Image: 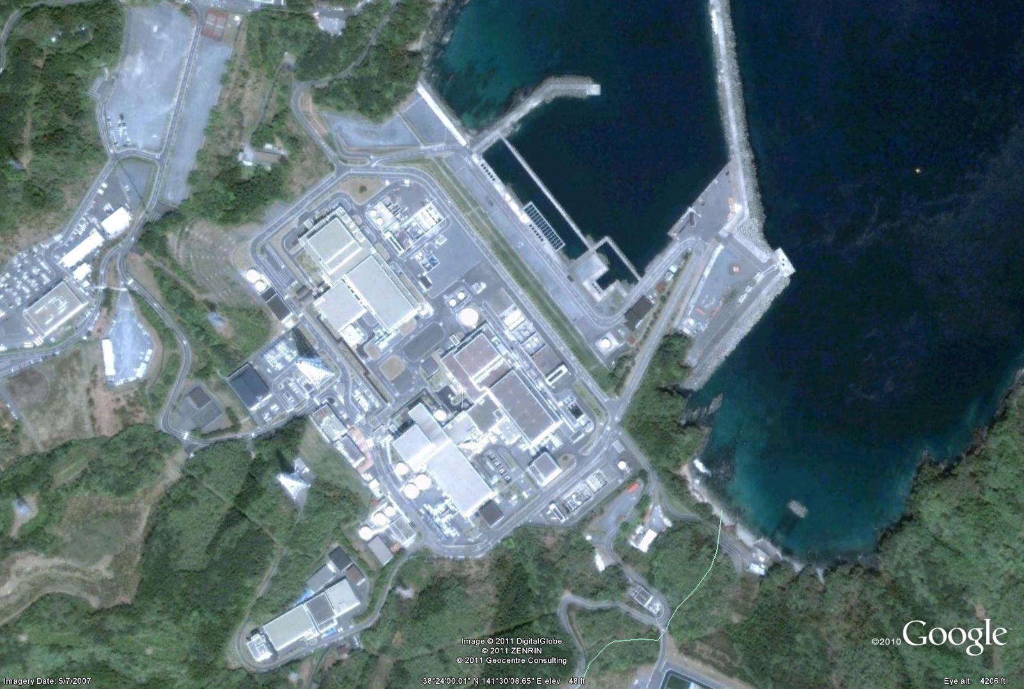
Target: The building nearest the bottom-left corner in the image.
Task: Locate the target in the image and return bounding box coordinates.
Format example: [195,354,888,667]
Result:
[247,634,272,661]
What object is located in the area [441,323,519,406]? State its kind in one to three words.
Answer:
building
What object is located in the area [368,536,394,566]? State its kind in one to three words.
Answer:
building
